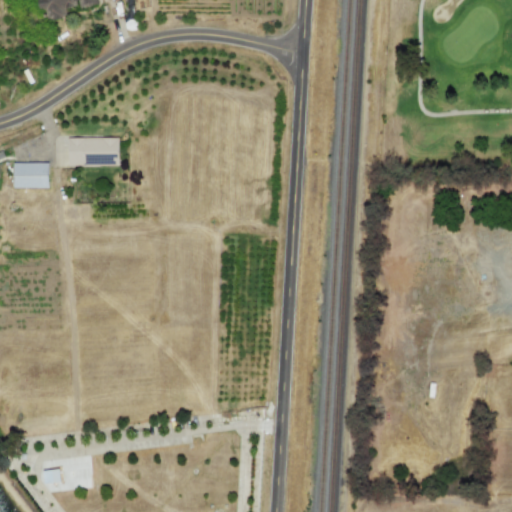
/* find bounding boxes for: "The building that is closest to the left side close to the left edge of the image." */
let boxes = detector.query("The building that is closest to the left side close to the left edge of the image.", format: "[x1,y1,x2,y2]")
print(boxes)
[13,162,50,188]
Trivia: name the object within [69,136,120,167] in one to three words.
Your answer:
barn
